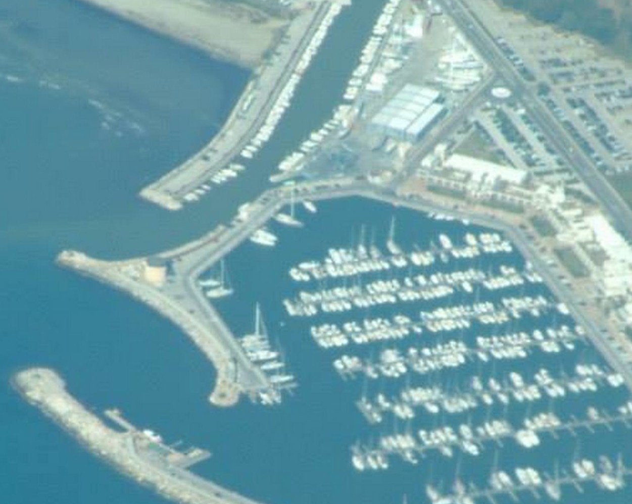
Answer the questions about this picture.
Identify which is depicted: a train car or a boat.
boat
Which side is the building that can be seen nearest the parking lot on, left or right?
right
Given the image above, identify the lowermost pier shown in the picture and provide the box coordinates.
[441,460,632,504]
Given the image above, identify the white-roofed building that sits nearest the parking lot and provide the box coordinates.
[445,153,525,190]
